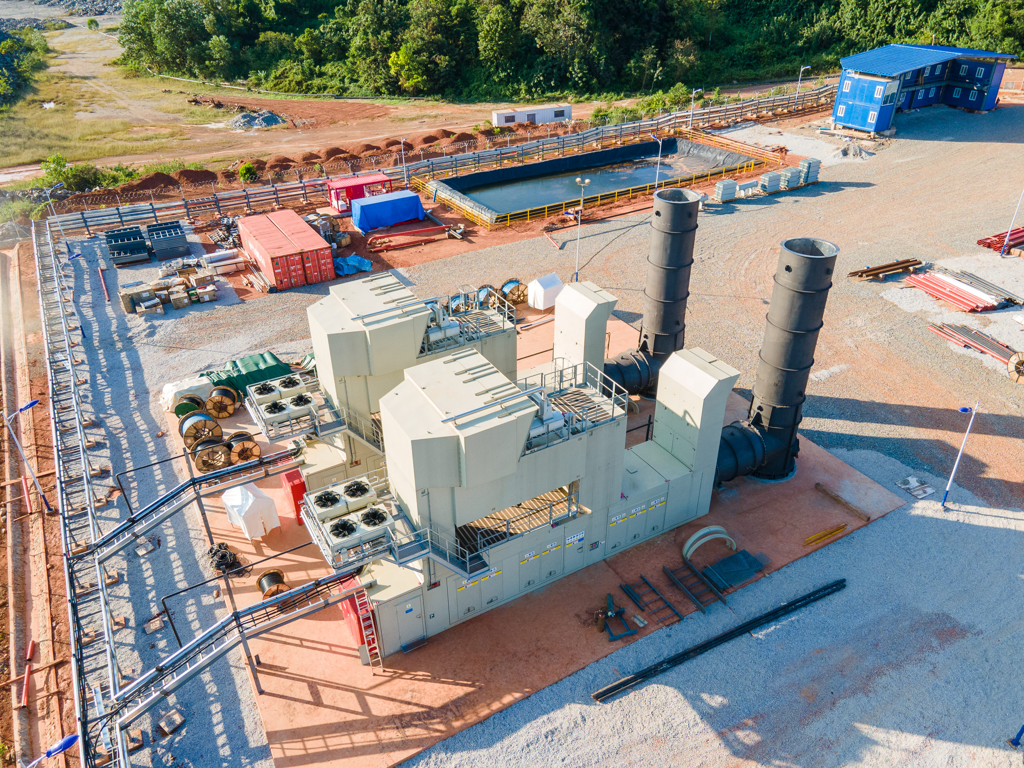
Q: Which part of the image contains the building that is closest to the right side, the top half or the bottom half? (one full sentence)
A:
You can find the building that is closest to the right side in the top half.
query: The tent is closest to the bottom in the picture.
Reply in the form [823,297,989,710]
[221,479,282,547]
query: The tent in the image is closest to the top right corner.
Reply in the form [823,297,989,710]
[528,276,562,311]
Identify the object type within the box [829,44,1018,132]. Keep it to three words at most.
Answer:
building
